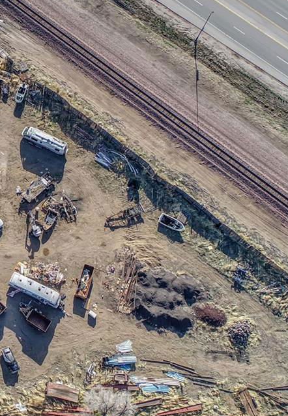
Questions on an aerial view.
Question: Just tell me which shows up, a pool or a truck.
truck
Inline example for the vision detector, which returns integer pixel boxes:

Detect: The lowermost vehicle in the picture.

[2,346,20,376]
